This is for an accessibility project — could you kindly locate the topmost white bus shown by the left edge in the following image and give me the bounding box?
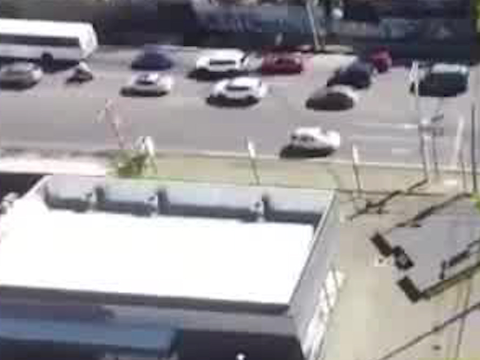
[0,18,98,66]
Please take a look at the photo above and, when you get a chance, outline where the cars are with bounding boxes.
[322,56,377,85]
[256,51,311,76]
[281,126,344,156]
[117,71,178,97]
[209,78,269,104]
[303,84,362,111]
[0,59,51,89]
[191,47,252,76]
[413,64,473,94]
[124,47,183,71]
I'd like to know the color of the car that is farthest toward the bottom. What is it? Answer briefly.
white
